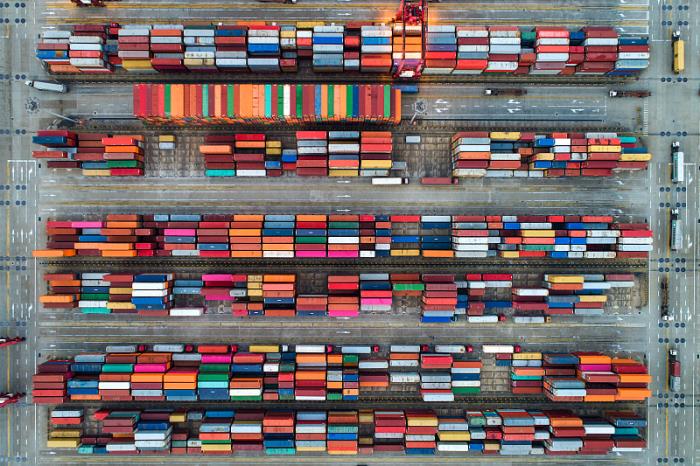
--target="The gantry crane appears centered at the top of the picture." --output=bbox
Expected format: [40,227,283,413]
[389,0,428,80]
